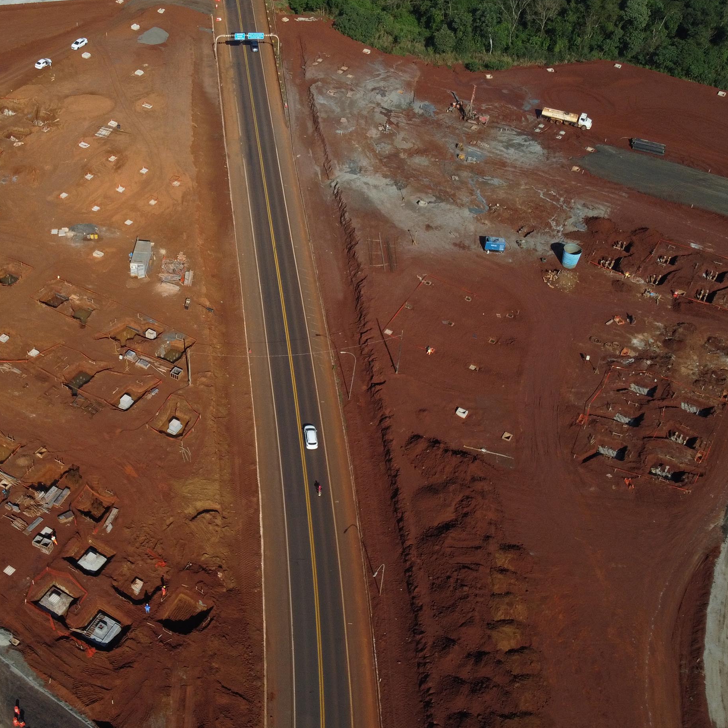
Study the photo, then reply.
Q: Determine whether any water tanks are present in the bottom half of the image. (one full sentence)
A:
No, I can find no water tank in the bottom half of the image.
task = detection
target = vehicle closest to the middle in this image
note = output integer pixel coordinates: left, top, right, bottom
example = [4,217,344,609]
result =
[304,425,319,448]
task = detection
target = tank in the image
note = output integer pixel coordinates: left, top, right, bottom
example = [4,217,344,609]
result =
[558,243,583,269]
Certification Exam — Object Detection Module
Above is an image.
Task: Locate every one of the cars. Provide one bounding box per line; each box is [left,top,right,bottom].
[33,57,52,67]
[250,39,259,51]
[304,425,319,448]
[70,38,88,50]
